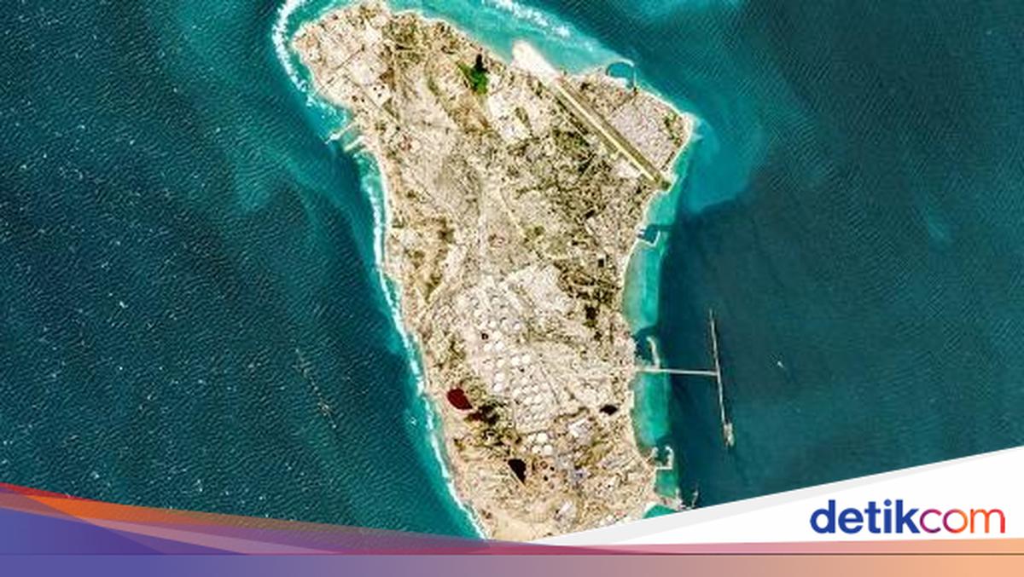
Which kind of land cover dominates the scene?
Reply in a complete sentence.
The scene is dominated by water.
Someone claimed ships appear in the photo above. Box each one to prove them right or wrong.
[725,425,731,446]
[728,423,735,446]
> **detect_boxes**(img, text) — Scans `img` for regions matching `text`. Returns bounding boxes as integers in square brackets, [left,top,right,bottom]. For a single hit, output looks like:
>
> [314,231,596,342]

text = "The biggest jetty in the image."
[635,309,727,440]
